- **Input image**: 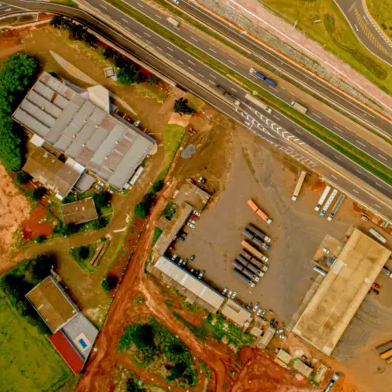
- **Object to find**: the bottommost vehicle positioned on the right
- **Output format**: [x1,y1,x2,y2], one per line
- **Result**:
[323,372,339,392]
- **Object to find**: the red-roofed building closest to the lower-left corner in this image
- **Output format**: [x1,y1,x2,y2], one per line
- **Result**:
[50,330,86,375]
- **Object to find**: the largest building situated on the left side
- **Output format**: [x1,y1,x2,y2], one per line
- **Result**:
[12,71,157,192]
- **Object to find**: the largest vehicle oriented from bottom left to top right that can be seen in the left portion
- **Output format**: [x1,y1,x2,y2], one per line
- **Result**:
[126,166,148,190]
